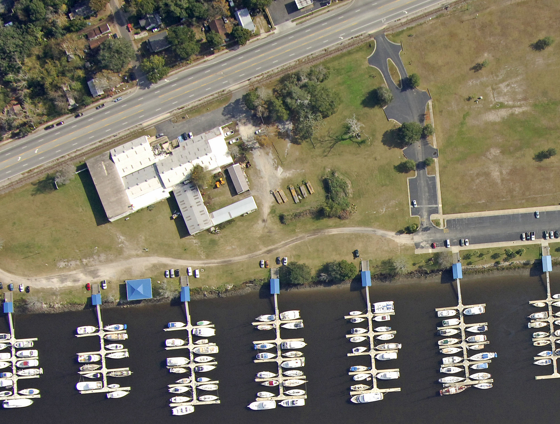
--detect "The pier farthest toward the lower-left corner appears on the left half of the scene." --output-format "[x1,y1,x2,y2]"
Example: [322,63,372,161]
[0,312,41,400]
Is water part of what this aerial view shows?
Yes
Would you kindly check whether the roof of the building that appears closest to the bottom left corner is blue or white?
blue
